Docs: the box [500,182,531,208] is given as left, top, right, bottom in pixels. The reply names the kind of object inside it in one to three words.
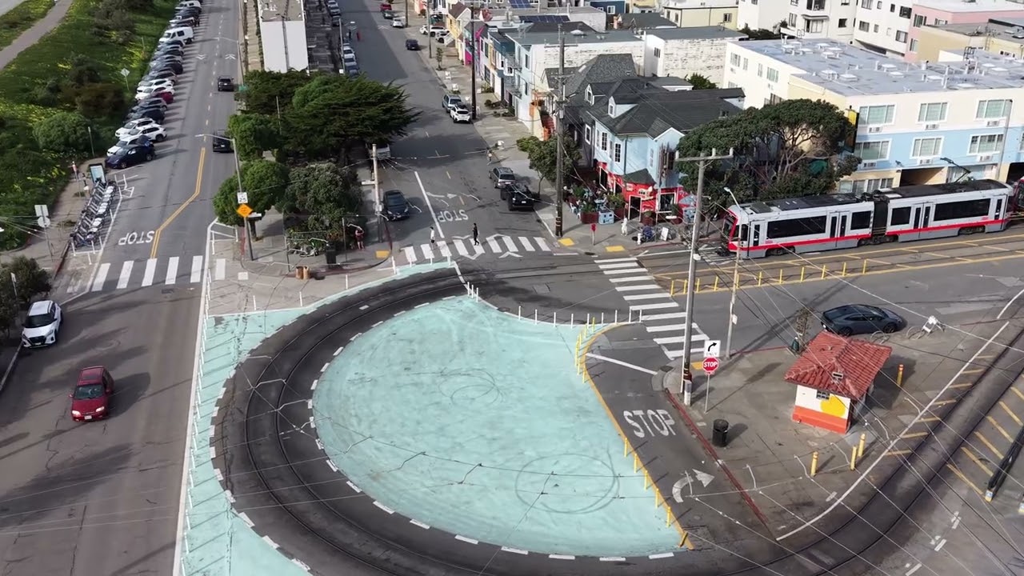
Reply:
car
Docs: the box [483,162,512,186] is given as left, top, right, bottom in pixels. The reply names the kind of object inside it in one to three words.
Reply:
car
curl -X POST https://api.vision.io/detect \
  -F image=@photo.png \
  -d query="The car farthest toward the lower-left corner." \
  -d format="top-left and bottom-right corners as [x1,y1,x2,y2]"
[73,364,120,415]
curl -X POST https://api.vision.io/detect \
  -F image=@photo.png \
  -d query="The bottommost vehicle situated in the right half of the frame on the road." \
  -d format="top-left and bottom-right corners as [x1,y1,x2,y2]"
[816,302,899,335]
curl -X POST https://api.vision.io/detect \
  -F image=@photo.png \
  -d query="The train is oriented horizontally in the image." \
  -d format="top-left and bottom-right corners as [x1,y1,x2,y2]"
[718,161,1016,255]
